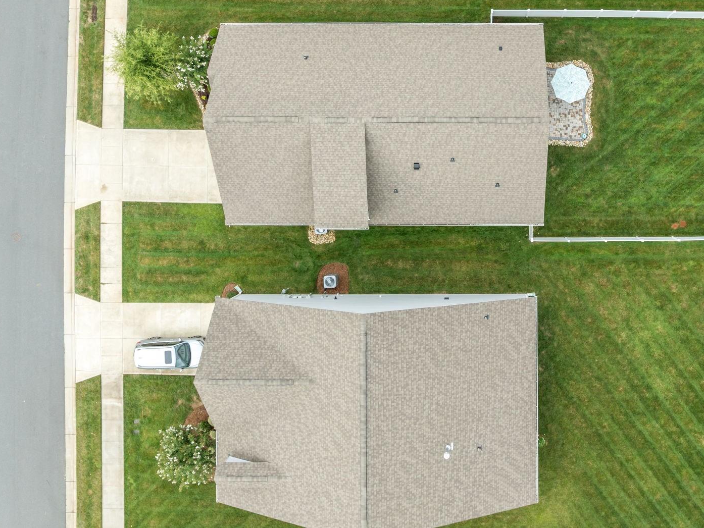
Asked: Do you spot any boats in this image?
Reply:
No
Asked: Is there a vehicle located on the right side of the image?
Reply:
No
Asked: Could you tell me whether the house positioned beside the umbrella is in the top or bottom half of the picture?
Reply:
top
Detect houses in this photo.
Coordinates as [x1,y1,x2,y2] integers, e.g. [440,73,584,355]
[195,279,538,528]
[204,21,548,230]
